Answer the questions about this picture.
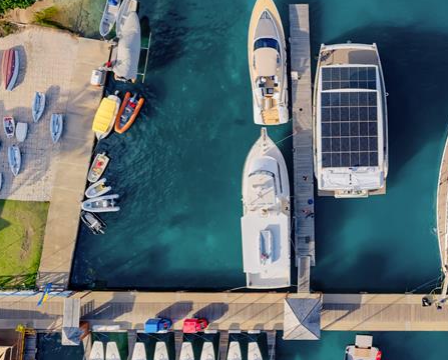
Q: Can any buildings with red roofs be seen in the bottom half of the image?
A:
No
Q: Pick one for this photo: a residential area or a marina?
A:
marina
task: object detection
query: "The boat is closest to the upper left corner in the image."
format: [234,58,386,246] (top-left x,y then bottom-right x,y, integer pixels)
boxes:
[0,48,16,91]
